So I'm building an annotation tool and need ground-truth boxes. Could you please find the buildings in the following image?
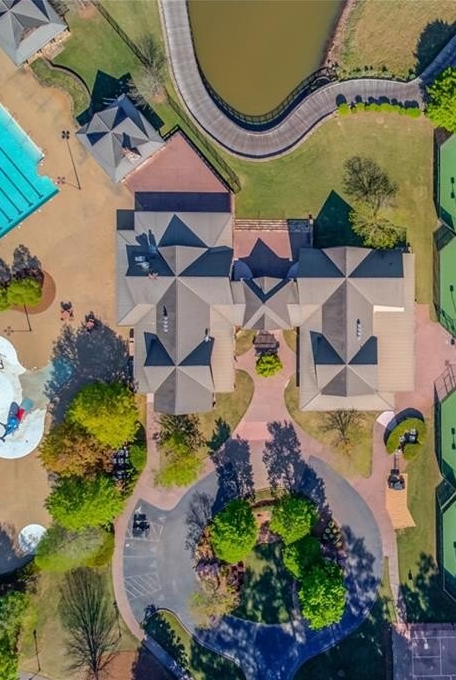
[0,0,73,71]
[117,212,415,415]
[75,94,169,185]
